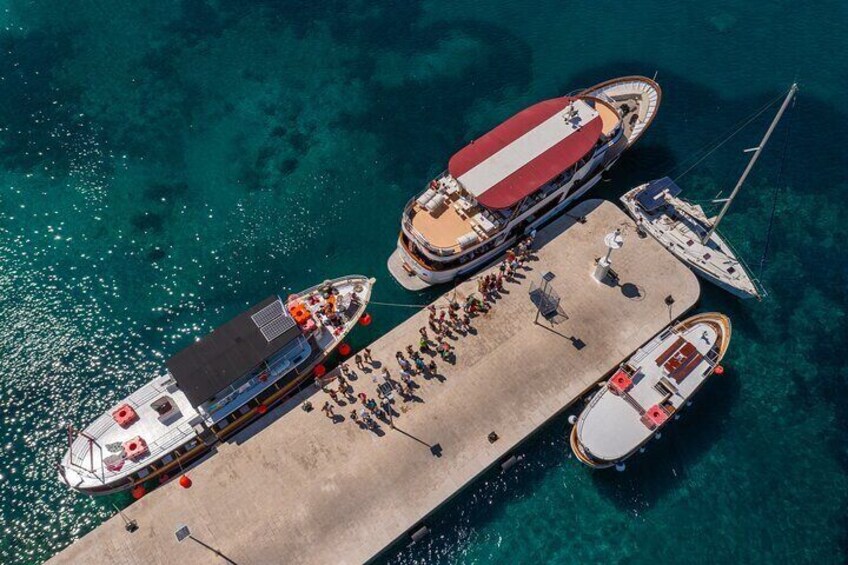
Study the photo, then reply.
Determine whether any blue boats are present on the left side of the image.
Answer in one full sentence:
No, looking on the left side of the image, there is no blue boat.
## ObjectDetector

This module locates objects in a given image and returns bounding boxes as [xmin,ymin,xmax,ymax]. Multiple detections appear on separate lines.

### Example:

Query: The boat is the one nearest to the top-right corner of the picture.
[620,75,803,302]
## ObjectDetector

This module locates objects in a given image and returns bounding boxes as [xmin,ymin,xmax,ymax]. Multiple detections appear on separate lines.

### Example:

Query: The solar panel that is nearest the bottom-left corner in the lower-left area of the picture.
[175,518,194,539]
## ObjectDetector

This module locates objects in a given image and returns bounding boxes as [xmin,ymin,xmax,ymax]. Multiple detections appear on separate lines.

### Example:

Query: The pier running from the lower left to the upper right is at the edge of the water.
[44,200,700,565]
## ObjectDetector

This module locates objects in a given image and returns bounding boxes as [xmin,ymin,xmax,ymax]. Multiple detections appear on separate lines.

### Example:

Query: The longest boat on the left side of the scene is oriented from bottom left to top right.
[55,275,378,498]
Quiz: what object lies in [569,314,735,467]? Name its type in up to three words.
boat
